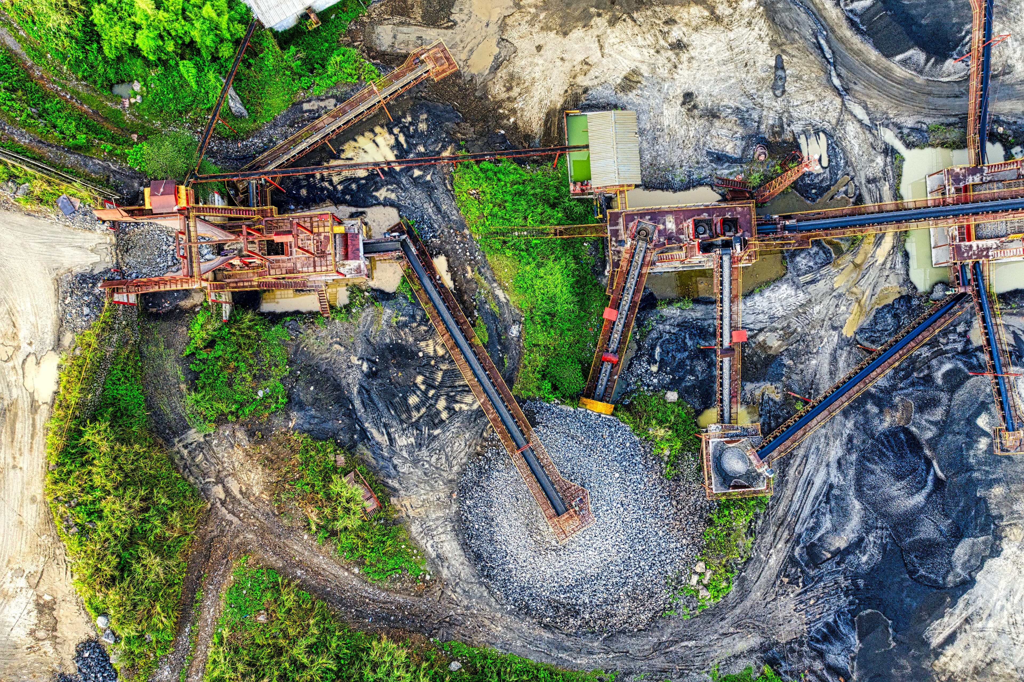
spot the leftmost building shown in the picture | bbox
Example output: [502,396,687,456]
[144,180,213,217]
